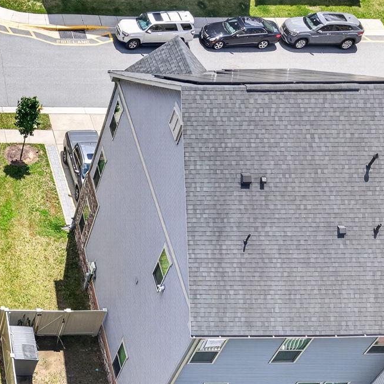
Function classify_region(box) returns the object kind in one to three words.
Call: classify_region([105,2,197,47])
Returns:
car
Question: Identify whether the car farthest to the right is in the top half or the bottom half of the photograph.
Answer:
top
